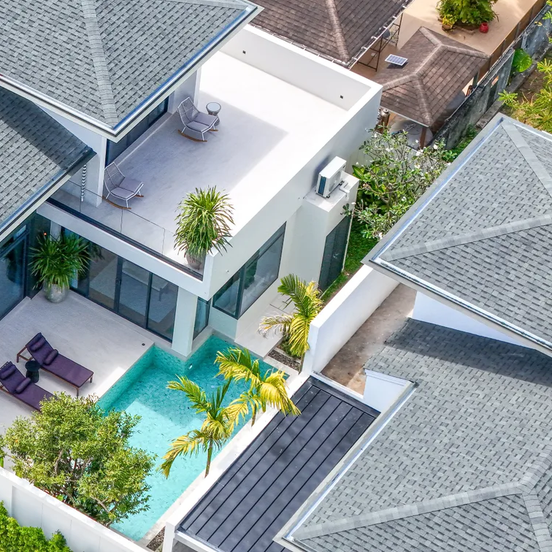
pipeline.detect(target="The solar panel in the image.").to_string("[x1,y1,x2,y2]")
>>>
[384,51,409,68]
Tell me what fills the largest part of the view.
buildings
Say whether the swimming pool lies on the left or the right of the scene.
left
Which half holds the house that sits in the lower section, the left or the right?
right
